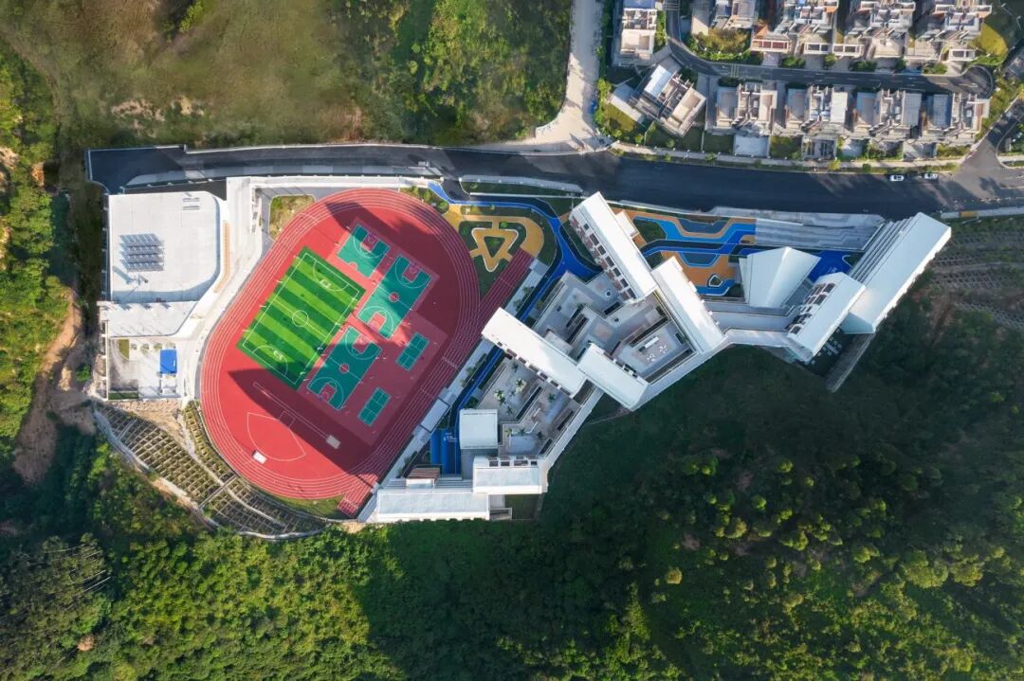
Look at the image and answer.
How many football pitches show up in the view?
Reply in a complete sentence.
Just 1 football pitch appears in this view.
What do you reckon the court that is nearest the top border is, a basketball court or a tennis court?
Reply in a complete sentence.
I'd identify the court that is nearest the top border as a basketball court.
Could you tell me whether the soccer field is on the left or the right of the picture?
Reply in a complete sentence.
The soccer field sits on the left side.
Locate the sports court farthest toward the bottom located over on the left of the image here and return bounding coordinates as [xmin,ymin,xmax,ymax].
[358,387,391,426]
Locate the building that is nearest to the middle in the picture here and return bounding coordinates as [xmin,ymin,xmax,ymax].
[479,307,587,402]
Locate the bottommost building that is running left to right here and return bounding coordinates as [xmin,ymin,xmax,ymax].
[376,479,491,521]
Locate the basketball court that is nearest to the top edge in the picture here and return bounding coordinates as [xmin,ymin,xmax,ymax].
[338,225,390,277]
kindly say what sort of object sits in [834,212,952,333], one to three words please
building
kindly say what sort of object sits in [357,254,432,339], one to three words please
basketball court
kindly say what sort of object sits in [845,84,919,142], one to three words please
house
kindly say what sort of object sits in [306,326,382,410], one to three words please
basketball court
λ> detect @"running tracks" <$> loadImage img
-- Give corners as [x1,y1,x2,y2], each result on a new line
[198,188,533,518]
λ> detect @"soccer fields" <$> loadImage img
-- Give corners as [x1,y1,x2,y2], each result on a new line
[236,246,366,390]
